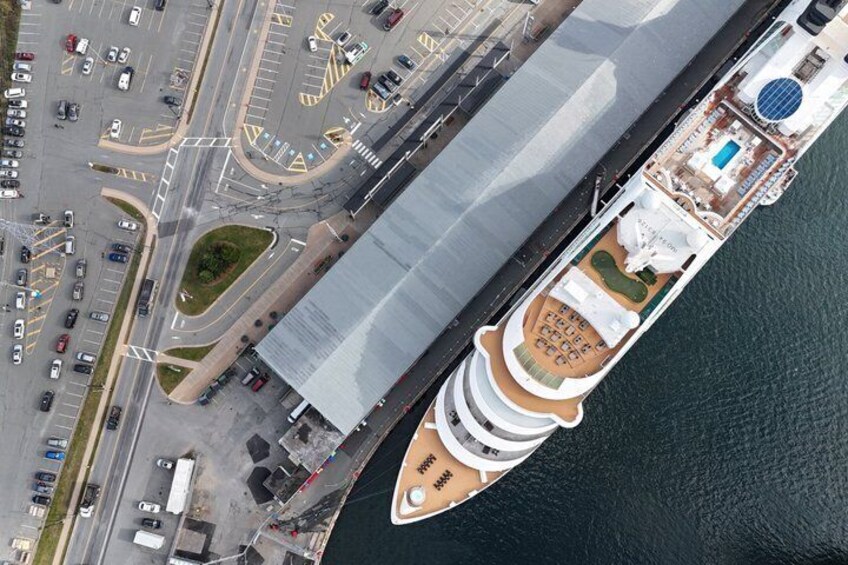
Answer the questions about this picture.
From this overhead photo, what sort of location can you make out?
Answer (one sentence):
It's a port.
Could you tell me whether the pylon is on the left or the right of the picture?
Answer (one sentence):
The pylon is on the left side of the image.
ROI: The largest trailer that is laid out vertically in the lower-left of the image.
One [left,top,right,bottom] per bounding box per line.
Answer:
[167,456,197,514]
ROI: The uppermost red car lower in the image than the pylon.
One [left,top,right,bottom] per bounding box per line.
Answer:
[55,333,70,353]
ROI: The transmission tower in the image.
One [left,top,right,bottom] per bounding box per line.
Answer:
[0,220,66,260]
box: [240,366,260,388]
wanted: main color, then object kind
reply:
gray vehicle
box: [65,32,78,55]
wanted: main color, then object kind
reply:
red vehicle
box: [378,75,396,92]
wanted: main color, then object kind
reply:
gray car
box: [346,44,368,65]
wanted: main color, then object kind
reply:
white truck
